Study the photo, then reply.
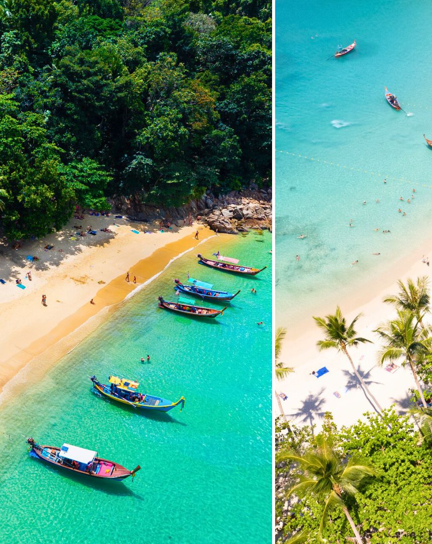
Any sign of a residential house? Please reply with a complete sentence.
No, the scene contains no residential house.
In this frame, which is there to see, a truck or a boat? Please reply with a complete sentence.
Visible in the photo is a boat.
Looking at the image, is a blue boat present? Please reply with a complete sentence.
Yes, you can see a blue boat in this photo.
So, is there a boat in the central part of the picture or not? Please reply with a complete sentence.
Yes, the scene does show a boat in the central part of the picture.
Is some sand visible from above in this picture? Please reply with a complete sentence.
Yes, sand can be seen from above here.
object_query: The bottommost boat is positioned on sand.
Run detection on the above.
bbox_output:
[24,437,143,481]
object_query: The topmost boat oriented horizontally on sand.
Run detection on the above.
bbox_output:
[191,250,270,275]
